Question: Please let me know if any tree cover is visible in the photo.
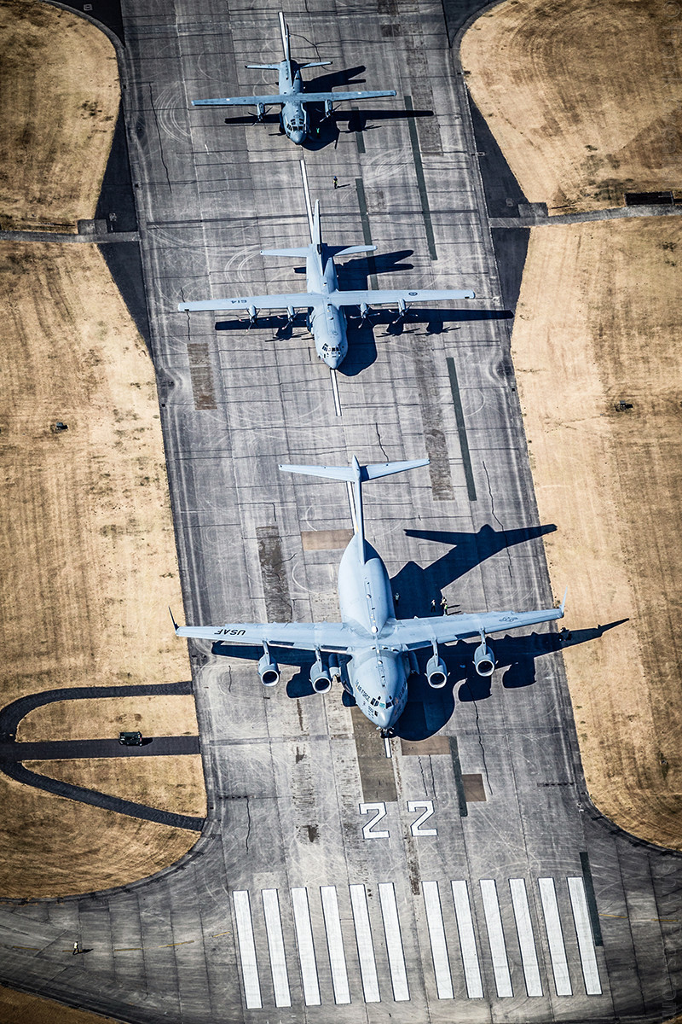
No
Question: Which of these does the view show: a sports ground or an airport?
airport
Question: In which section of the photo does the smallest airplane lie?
top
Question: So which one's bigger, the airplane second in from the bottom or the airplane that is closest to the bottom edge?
the airplane that is closest to the bottom edge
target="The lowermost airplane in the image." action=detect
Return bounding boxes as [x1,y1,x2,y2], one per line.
[167,453,569,737]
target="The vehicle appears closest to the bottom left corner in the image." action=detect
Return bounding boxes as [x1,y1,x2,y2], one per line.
[116,728,143,745]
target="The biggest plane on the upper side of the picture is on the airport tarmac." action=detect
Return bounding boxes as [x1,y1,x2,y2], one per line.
[177,197,475,373]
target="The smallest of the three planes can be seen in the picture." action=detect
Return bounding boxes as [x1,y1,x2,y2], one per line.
[191,21,397,147]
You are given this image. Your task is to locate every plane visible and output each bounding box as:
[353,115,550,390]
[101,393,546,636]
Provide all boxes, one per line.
[191,21,397,147]
[167,453,569,737]
[177,197,475,373]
